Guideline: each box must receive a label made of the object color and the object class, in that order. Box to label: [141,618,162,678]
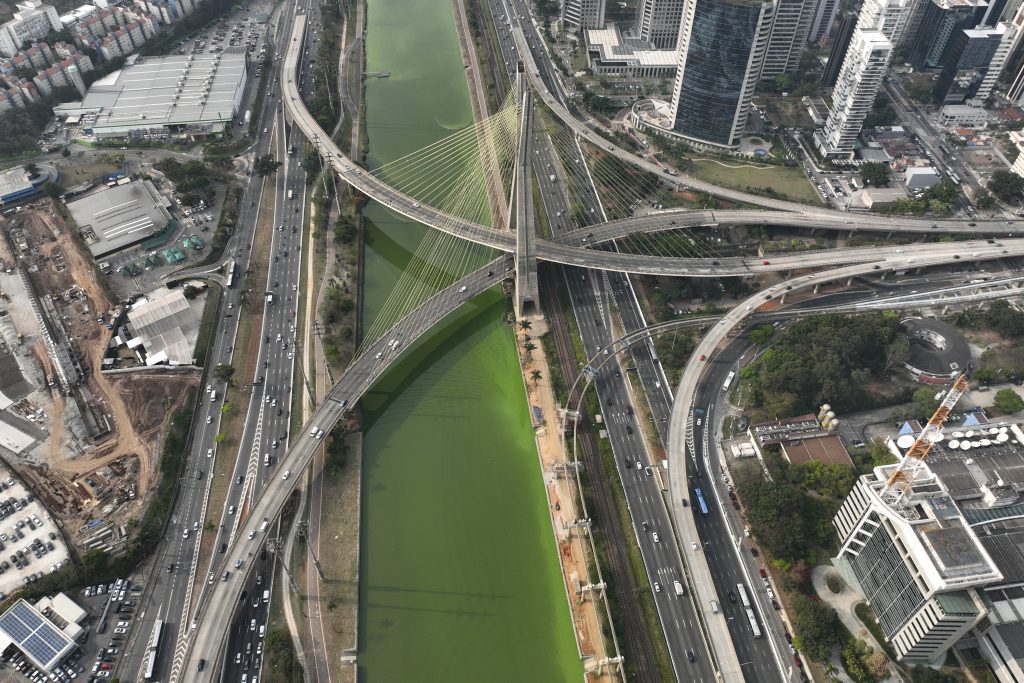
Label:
white bus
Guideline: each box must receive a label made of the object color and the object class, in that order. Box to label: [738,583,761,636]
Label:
white bus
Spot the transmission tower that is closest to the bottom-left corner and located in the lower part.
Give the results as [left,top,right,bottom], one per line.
[265,546,302,599]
